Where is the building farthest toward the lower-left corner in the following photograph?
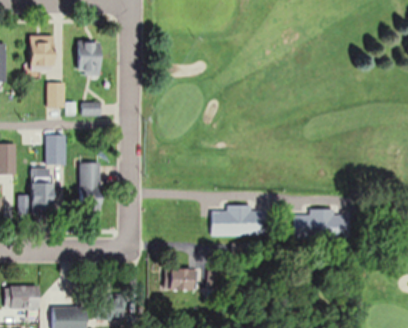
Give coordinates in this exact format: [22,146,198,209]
[4,284,42,310]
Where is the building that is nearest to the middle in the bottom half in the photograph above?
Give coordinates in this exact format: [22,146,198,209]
[210,204,264,237]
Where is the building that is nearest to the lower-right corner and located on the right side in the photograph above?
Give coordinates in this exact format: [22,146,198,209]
[284,208,348,238]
